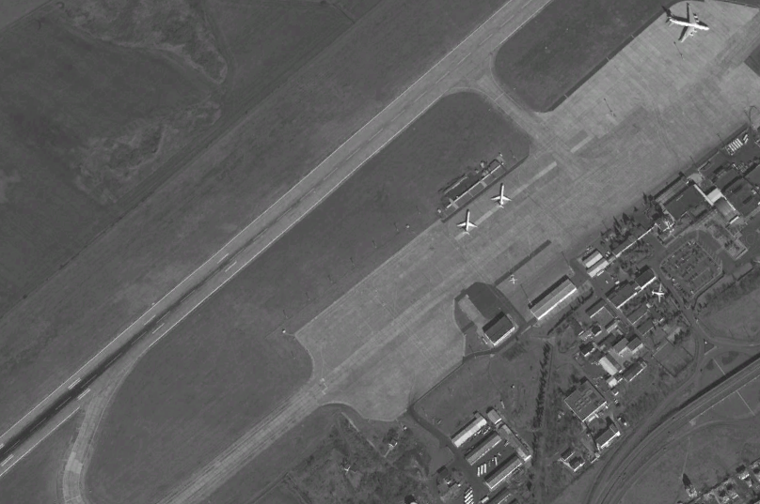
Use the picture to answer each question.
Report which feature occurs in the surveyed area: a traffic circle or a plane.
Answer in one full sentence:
The image shows a plane.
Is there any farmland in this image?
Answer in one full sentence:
Yes, there's farmland in this view.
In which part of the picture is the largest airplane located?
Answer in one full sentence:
The largest airplane is in the top right part of the image.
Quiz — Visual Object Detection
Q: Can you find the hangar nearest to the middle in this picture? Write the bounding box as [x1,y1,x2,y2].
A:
[486,314,515,345]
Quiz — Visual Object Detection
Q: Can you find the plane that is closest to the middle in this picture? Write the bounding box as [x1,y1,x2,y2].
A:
[459,211,479,233]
